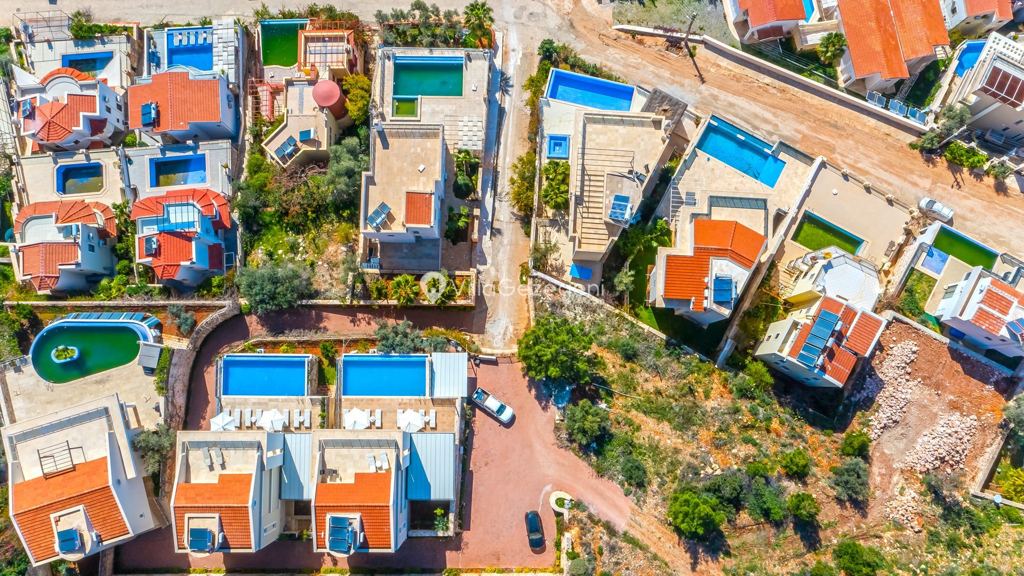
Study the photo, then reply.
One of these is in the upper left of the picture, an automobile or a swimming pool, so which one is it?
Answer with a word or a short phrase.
swimming pool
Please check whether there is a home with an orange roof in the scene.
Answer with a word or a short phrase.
Yes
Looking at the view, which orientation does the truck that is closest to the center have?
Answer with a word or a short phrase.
diagonally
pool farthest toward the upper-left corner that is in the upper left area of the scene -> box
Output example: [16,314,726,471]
[57,47,118,77]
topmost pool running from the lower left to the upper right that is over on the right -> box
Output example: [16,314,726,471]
[954,38,989,79]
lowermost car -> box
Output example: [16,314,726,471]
[525,510,545,553]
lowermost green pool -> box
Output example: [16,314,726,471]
[25,319,159,386]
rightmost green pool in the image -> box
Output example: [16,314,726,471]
[926,221,1003,275]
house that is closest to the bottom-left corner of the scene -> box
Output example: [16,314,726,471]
[1,393,166,567]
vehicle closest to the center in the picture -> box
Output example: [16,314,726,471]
[470,386,517,426]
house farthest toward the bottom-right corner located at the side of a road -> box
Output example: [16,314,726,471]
[923,266,1024,360]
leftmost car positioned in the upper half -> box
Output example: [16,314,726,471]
[919,193,963,225]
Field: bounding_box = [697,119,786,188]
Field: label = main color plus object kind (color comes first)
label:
blue swimming pool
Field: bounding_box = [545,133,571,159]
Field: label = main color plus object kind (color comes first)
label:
blue swimming pool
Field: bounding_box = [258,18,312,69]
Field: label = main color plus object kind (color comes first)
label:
green swimming pool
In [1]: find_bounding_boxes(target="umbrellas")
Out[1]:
[211,408,237,430]
[342,404,372,430]
[397,406,426,433]
[259,405,288,432]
